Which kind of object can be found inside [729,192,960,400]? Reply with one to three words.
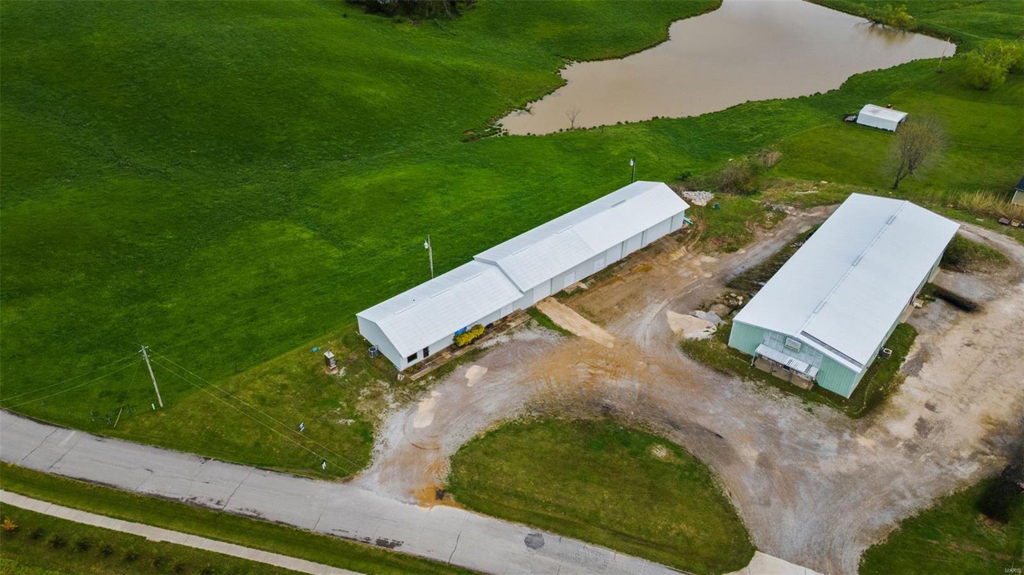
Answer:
building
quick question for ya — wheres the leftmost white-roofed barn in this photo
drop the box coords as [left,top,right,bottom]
[356,180,690,369]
